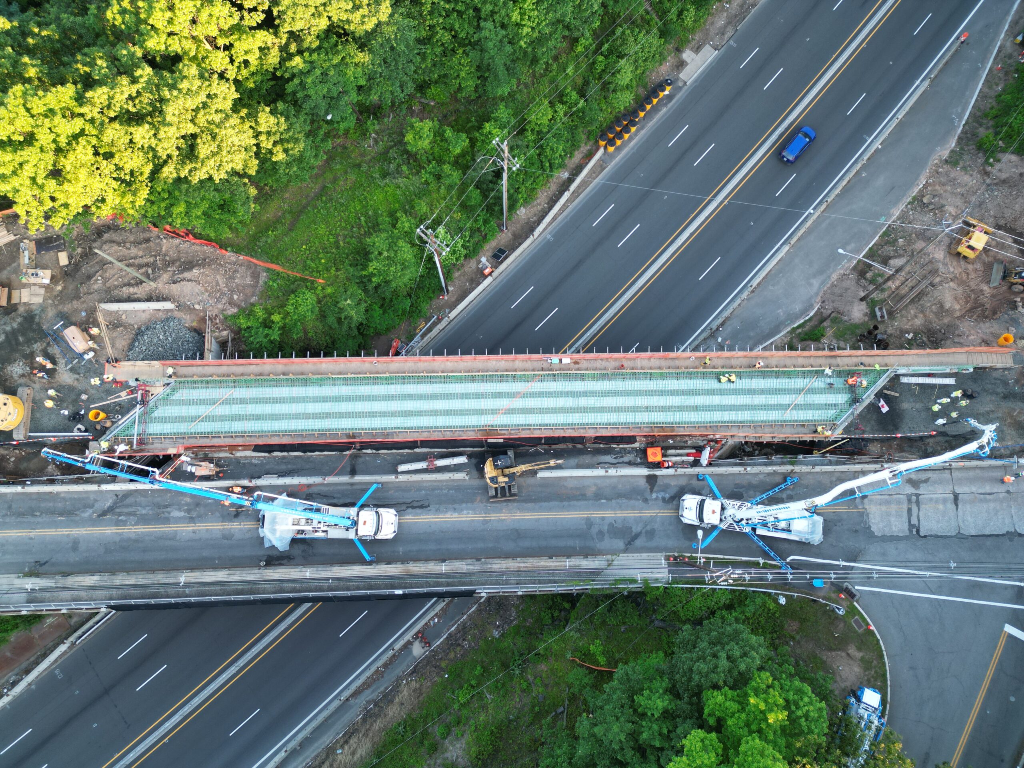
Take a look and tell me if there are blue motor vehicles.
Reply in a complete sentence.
Yes, the frame does contain a blue motor vehicle.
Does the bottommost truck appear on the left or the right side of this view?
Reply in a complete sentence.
It is on the right.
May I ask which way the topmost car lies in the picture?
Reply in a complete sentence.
From this overhead view, the topmost car appears to run diagonally.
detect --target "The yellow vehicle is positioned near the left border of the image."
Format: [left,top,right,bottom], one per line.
[0,387,36,440]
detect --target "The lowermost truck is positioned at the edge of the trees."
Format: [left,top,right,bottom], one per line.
[832,679,890,768]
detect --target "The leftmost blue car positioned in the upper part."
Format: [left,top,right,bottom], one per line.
[779,128,816,169]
